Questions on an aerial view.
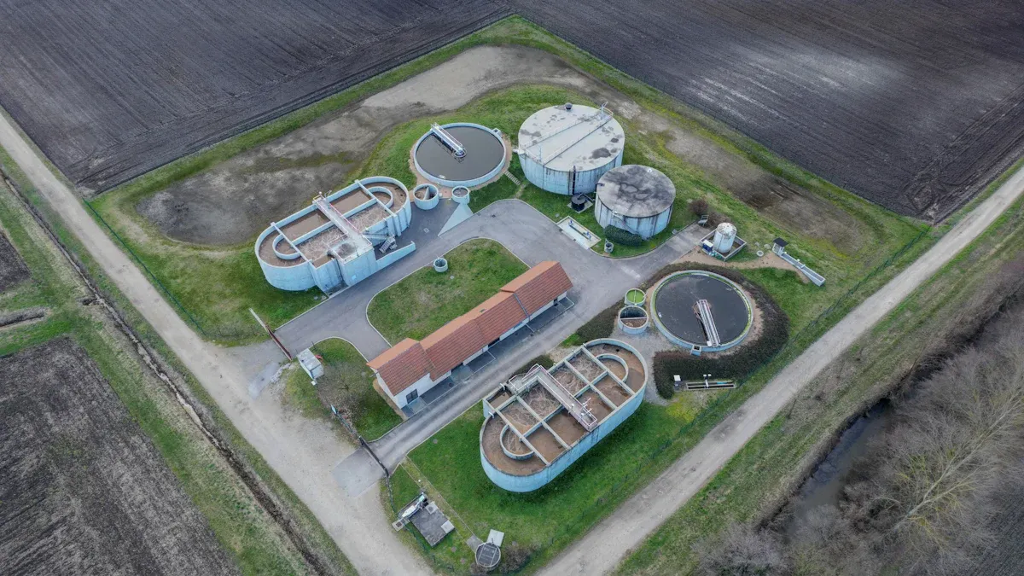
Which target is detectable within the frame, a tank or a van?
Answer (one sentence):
The one in the frame is a tank.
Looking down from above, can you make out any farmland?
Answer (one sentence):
Yes, there's farmland in this view.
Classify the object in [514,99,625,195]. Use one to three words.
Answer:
storage tank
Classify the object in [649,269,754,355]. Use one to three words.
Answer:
water tank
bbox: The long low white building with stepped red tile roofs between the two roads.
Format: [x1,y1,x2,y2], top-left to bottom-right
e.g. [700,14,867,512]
[367,261,576,420]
